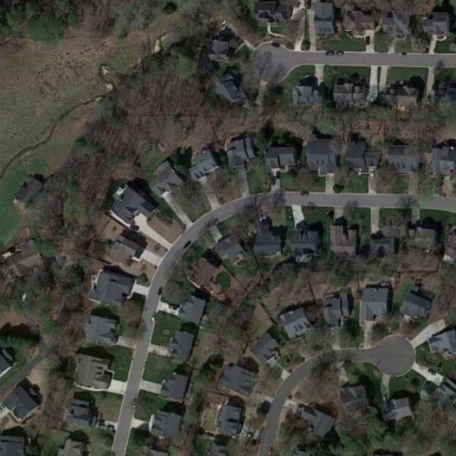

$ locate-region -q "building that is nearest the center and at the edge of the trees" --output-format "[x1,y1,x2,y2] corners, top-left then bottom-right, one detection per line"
[213,235,247,266]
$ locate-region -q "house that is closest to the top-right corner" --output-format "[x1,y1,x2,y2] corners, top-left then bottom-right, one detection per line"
[424,7,451,34]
